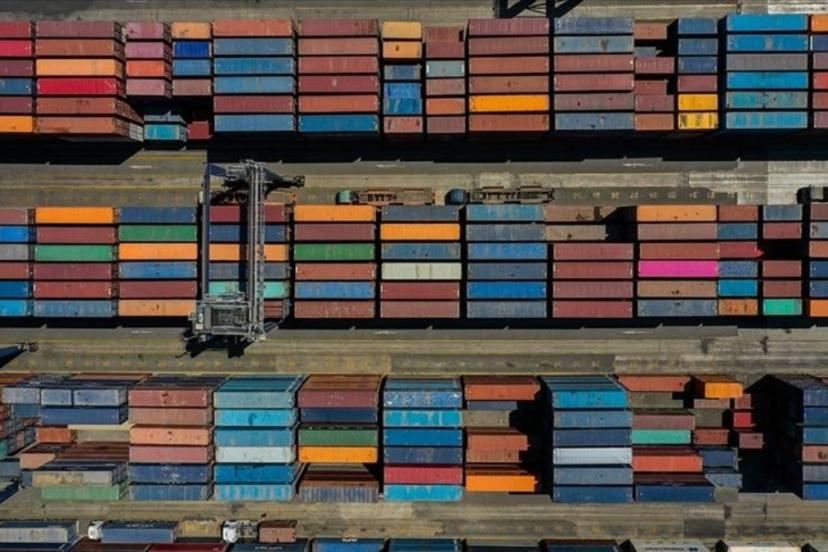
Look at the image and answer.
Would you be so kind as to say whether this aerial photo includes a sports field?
No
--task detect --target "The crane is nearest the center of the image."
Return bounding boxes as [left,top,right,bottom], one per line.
[188,161,312,346]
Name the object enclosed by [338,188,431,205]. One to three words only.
vehicle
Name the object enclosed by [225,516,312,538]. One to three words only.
truck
